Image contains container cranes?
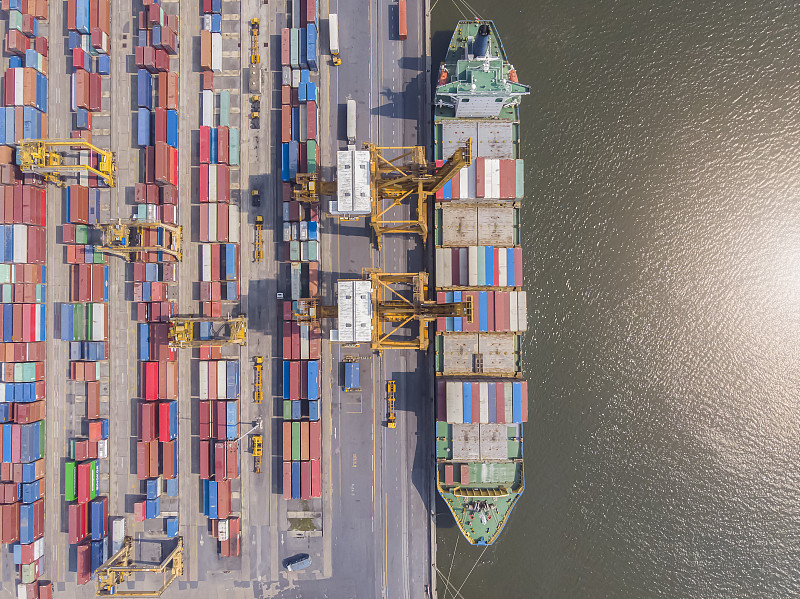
Yes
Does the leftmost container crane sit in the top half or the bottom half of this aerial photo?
top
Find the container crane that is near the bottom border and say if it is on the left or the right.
left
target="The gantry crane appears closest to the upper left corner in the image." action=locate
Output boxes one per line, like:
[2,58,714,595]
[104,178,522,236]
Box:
[15,134,117,189]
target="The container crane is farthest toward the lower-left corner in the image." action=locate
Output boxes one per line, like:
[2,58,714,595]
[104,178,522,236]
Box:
[93,535,184,599]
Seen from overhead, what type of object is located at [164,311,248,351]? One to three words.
container crane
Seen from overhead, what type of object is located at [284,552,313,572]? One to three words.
vehicle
